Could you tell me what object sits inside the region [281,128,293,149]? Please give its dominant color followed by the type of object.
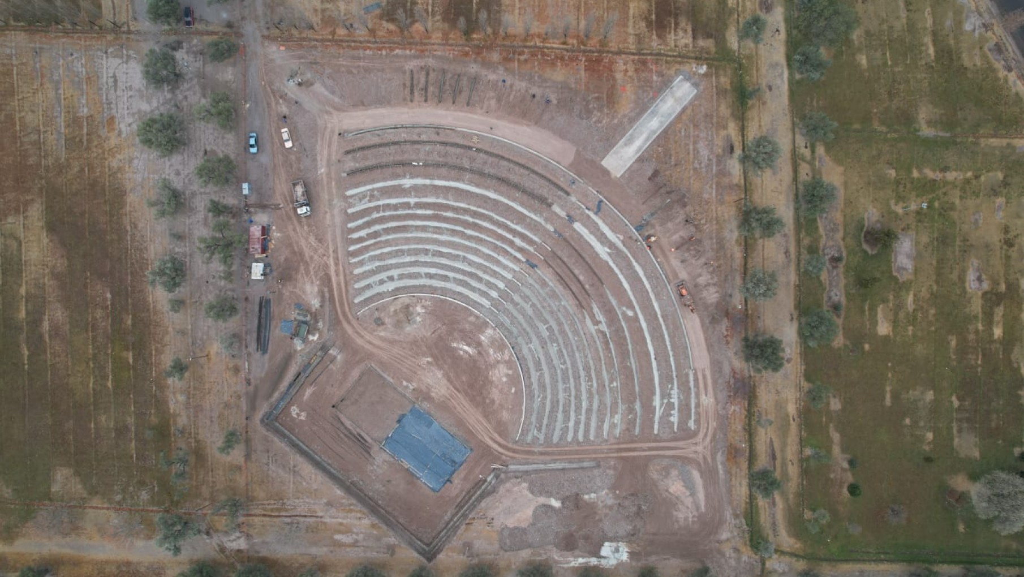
white vehicle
